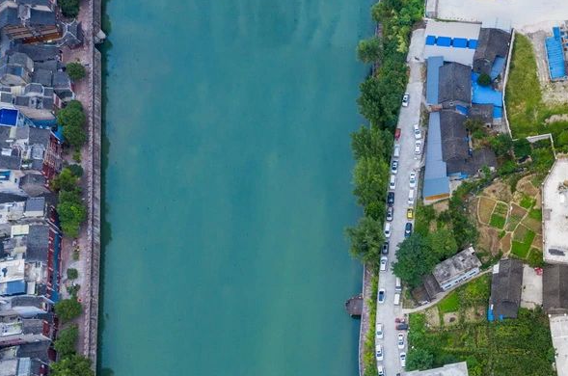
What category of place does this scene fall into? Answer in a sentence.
This image shows a residential area.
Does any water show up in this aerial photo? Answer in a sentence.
Yes, water shows up in the scene.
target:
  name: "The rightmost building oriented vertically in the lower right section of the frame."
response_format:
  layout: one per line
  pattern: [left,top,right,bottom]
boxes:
[543,262,568,318]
